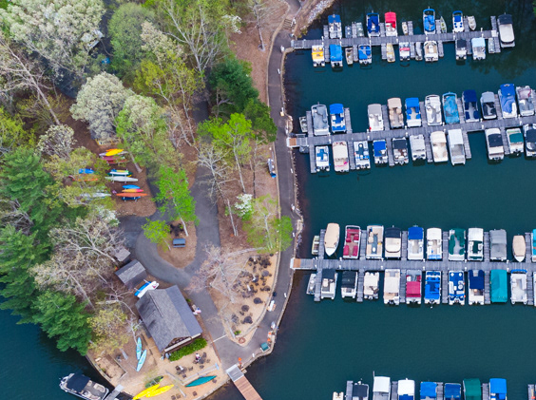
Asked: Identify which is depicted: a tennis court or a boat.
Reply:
boat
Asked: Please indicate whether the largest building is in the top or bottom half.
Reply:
bottom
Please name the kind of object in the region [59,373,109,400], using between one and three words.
boat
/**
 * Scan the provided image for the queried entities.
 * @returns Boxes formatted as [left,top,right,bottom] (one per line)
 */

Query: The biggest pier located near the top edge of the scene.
[304,17,500,64]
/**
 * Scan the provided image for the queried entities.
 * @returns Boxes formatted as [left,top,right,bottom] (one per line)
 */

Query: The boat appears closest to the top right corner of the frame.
[498,14,514,48]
